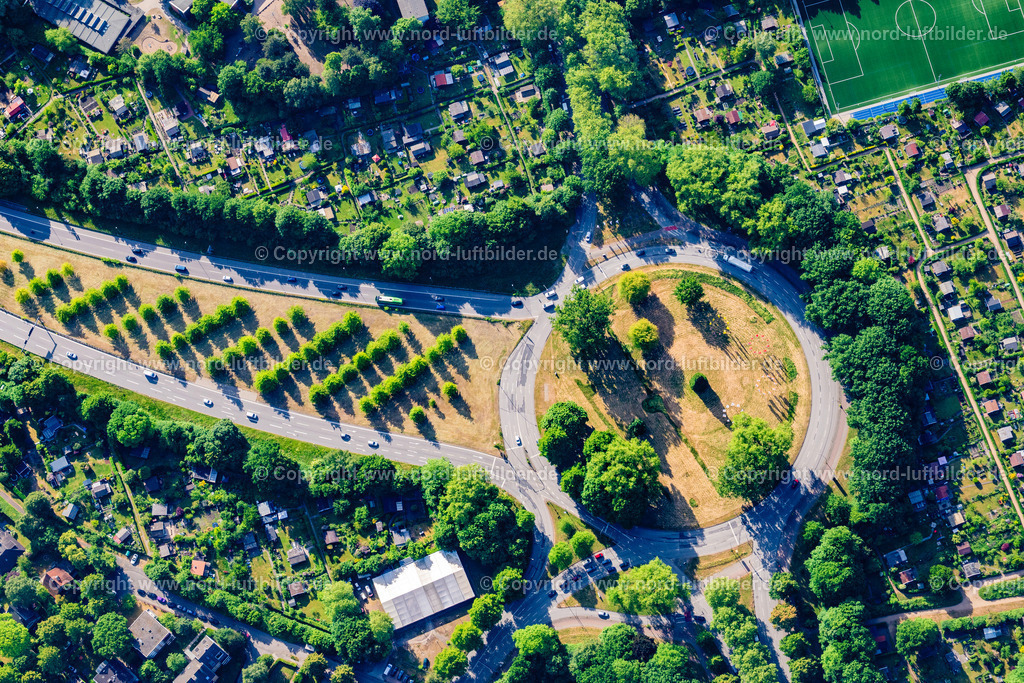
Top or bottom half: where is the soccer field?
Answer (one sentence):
The soccer field sits in the top half of the picture.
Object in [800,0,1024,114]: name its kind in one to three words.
soccer field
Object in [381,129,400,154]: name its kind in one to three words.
shed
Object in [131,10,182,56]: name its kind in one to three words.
playground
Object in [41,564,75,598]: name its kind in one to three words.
house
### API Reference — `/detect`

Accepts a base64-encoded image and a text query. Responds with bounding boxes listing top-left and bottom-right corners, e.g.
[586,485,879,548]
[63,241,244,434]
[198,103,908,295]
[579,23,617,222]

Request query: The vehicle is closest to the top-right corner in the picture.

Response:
[723,255,754,272]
